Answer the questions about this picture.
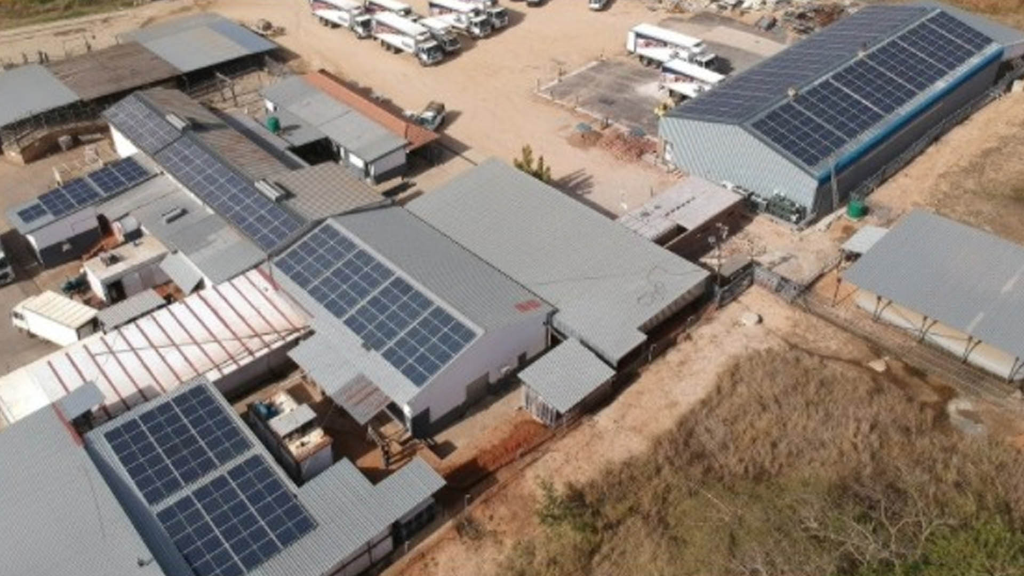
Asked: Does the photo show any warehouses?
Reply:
Yes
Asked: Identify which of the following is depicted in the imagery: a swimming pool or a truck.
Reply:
truck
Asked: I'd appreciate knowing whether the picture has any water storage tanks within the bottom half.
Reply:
No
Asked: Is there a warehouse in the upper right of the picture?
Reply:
Yes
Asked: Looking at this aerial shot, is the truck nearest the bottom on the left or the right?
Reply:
left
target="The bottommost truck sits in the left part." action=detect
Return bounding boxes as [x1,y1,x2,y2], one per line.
[0,290,95,348]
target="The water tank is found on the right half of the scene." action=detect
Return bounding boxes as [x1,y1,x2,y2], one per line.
[844,197,870,222]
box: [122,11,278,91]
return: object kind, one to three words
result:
shed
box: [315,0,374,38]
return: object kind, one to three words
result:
truck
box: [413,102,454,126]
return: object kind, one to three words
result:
truck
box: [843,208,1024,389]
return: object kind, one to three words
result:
shed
